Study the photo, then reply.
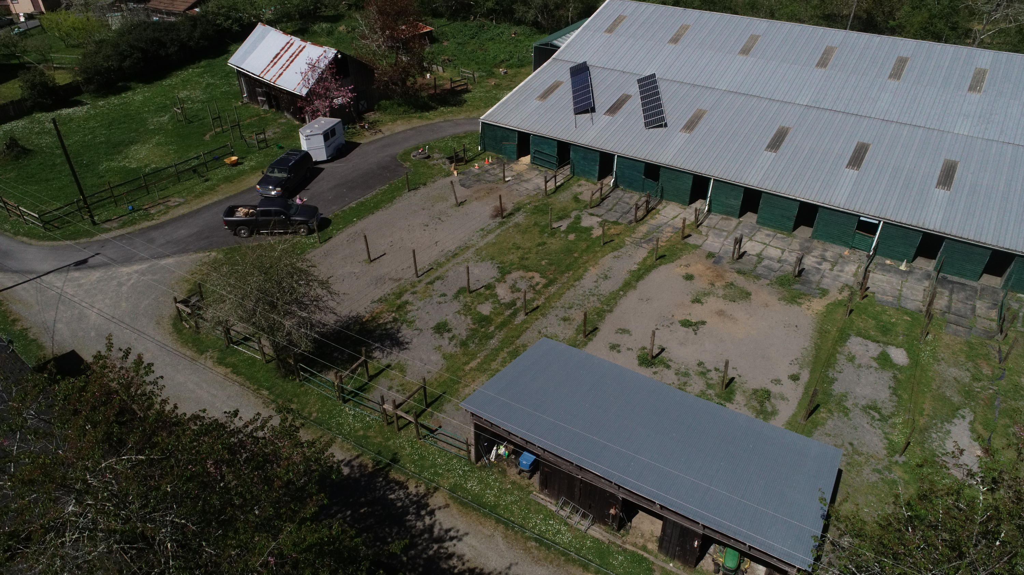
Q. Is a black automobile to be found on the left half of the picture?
Yes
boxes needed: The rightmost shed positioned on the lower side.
[459,338,842,575]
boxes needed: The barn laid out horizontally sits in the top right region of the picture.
[476,0,1024,293]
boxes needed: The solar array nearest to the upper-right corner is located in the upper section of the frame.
[637,76,666,133]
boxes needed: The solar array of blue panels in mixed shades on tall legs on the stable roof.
[569,61,593,126]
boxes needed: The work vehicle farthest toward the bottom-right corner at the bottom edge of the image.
[708,544,753,575]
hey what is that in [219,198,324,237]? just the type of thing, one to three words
truck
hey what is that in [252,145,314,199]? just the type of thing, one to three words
car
